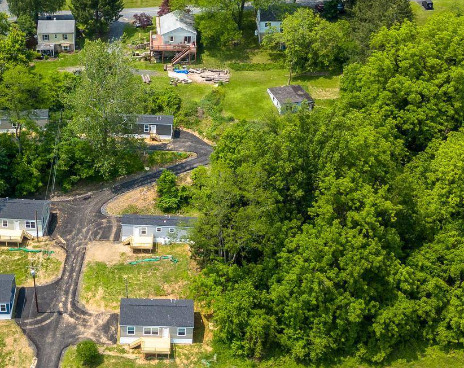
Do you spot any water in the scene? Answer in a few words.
No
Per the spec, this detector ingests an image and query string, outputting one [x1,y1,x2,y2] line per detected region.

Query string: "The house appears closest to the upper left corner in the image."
[35,15,75,58]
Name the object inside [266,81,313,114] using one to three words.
shed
